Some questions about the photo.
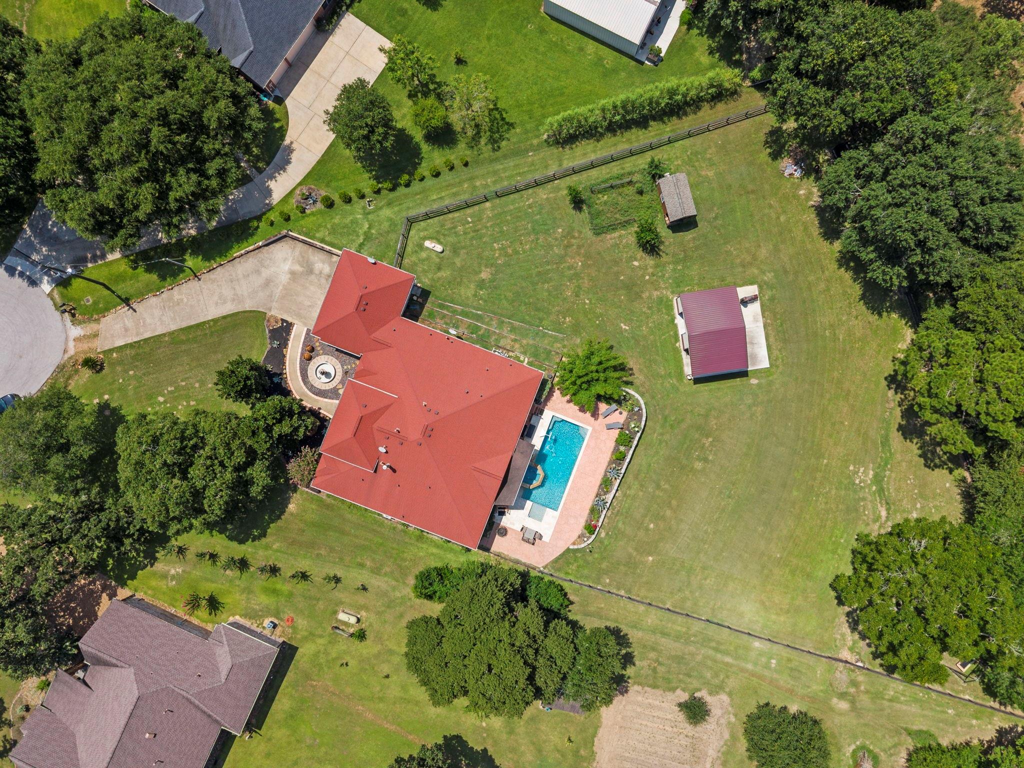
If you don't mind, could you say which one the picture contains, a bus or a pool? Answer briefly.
pool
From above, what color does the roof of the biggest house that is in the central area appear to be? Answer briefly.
red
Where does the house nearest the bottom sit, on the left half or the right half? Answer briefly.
left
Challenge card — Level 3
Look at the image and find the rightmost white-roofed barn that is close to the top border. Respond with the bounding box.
[546,0,661,57]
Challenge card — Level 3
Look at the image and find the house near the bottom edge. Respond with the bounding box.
[5,597,282,768]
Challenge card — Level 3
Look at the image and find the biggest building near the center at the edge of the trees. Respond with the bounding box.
[310,248,545,551]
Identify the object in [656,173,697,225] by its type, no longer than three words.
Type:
shed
